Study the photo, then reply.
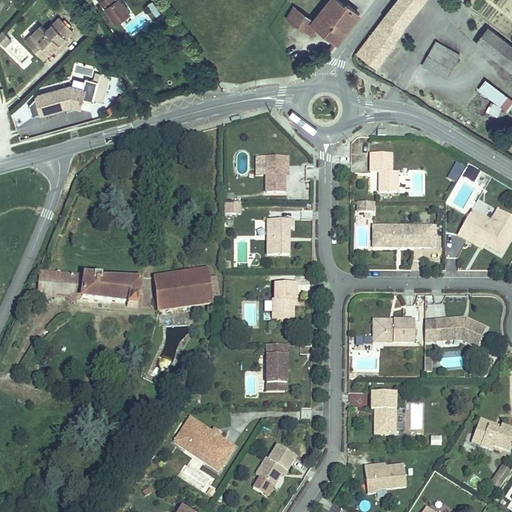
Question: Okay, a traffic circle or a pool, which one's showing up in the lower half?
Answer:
pool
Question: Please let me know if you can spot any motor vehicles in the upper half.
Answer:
Yes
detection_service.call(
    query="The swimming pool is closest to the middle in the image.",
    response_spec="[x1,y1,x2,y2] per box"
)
[234,236,250,267]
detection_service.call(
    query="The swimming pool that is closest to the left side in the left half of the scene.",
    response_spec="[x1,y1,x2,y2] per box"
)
[72,63,94,78]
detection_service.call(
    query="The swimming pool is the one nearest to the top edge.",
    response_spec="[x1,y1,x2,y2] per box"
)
[122,12,152,32]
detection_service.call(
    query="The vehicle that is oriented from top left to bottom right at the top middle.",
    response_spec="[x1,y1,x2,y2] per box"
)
[288,112,318,136]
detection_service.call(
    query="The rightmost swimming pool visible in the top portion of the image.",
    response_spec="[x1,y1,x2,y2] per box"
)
[446,163,490,214]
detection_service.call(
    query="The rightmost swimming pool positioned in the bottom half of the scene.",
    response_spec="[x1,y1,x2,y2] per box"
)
[439,352,464,372]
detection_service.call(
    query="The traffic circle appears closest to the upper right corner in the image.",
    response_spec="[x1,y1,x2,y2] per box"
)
[296,79,355,140]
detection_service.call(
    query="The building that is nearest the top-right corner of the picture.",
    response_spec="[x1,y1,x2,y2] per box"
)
[476,30,512,72]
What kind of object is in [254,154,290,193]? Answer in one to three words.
house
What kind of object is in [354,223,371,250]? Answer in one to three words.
swimming pool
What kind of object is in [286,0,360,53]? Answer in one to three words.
building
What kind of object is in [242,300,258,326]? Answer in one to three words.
swimming pool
